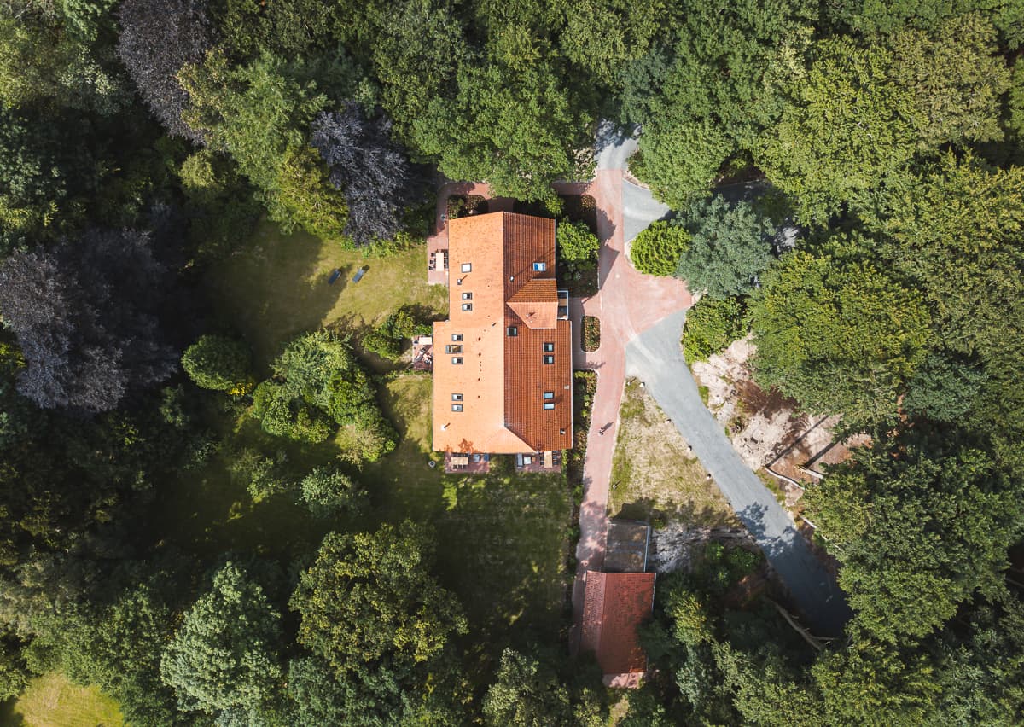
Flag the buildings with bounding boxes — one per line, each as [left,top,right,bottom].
[431,213,574,454]
[580,565,653,673]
